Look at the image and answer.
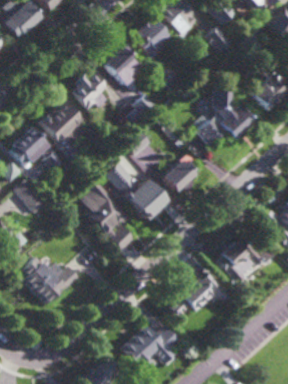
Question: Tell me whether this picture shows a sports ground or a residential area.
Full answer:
The area seen from above is a residential area.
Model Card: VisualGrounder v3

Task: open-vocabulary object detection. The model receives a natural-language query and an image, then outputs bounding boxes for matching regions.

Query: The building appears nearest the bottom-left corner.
[24,254,76,300]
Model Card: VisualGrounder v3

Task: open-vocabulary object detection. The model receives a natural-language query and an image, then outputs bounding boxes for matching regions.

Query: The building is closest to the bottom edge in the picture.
[120,326,178,366]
